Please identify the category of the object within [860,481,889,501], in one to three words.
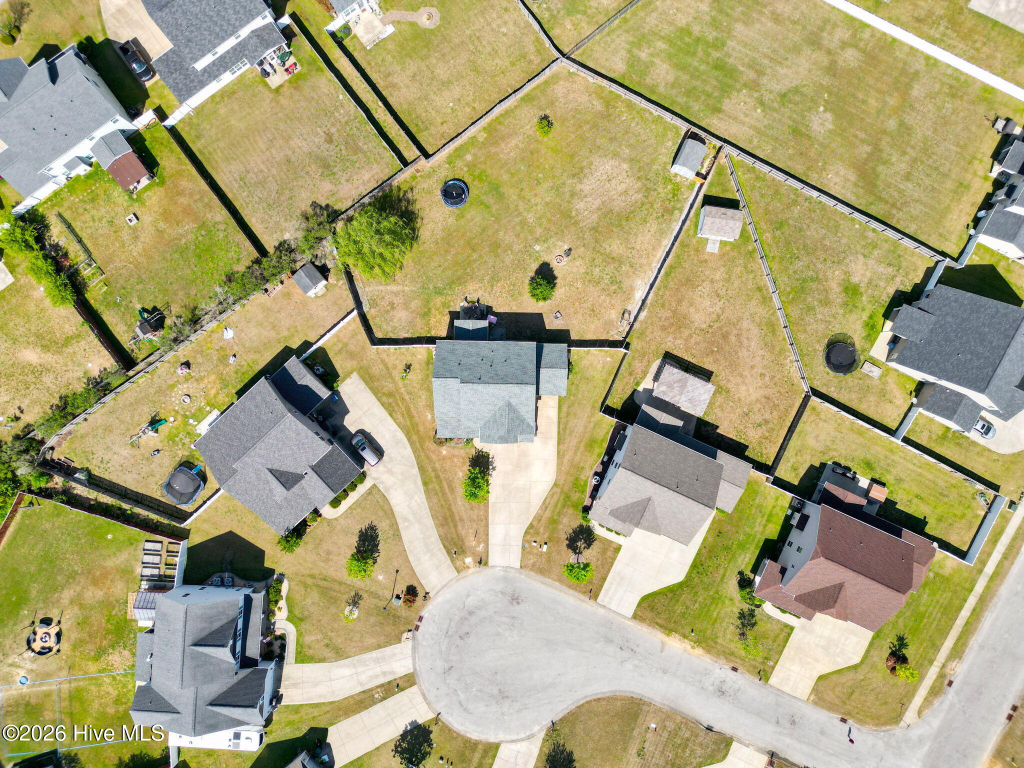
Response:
gazebo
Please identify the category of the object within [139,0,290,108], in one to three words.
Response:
house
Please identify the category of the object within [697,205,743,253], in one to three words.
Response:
shed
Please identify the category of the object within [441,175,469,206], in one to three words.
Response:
trampoline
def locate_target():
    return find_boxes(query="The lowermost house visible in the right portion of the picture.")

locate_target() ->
[749,477,935,633]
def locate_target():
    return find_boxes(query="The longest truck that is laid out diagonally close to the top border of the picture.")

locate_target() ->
[116,37,152,81]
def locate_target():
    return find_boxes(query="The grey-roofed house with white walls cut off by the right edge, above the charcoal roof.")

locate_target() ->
[964,140,1024,268]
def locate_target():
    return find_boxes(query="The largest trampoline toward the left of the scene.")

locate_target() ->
[159,463,204,503]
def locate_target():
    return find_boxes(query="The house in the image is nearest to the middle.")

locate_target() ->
[433,315,568,444]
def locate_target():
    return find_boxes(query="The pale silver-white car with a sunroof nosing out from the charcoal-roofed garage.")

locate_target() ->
[973,414,1002,442]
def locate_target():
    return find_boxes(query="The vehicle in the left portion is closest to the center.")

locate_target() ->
[352,431,382,468]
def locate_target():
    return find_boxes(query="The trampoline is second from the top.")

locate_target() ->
[824,337,866,371]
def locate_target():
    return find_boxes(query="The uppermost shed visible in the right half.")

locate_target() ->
[673,139,707,178]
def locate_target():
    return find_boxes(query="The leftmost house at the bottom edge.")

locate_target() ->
[128,587,277,740]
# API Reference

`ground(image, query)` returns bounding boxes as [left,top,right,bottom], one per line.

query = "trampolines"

[824,337,866,371]
[441,175,469,206]
[159,463,204,503]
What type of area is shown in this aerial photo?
residential area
